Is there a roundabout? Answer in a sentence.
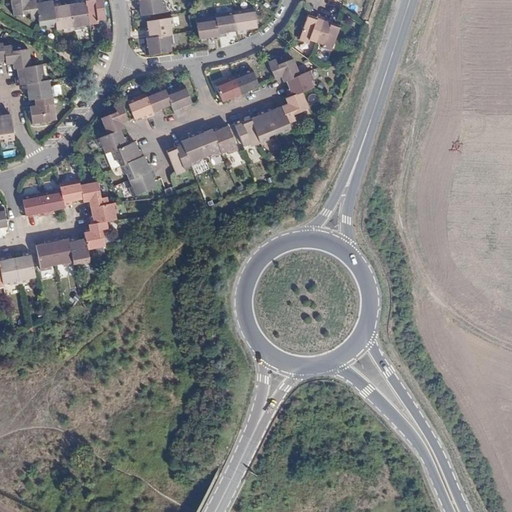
Yes, you can see a roundabout in this photo.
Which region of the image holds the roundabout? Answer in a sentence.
The roundabout sits in the center section of the image.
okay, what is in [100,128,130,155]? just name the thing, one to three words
house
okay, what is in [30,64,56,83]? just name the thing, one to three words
house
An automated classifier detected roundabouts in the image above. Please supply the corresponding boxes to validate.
[232,227,384,378]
